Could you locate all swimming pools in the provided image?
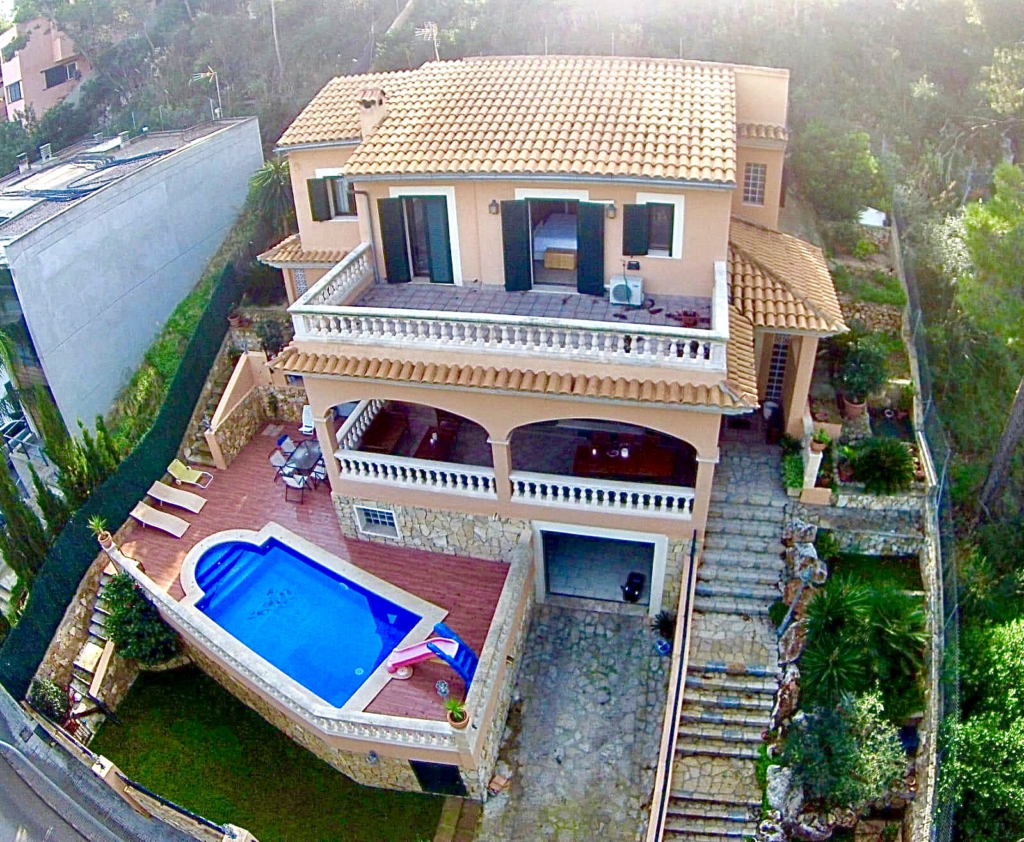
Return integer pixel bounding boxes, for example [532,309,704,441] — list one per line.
[173,528,441,709]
